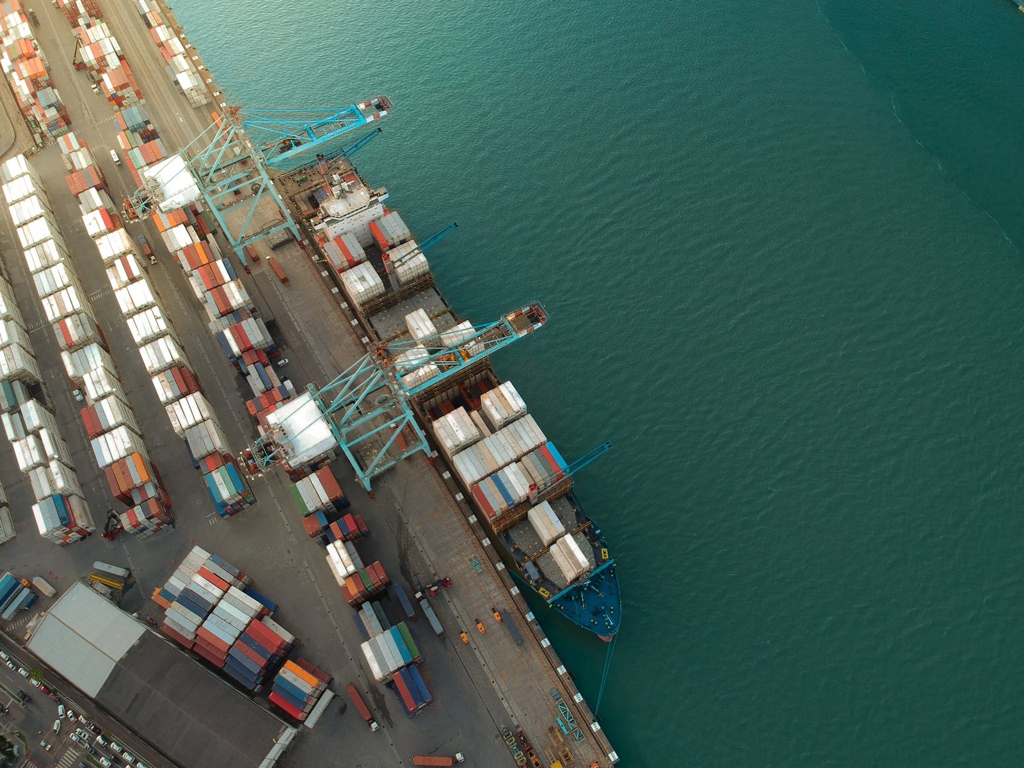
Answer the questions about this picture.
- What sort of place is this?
port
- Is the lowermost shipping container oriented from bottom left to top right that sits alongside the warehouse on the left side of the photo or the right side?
left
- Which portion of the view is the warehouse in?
bottom left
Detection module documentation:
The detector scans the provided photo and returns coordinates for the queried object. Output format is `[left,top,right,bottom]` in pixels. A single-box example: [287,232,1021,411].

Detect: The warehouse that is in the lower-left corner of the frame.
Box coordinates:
[24,580,306,768]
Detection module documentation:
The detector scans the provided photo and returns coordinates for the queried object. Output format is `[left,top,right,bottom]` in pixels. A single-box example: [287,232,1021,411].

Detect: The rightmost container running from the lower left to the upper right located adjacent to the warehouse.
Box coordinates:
[304,687,336,726]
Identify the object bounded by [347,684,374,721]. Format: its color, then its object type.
red shipping container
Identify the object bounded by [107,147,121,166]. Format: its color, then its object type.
white vehicle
